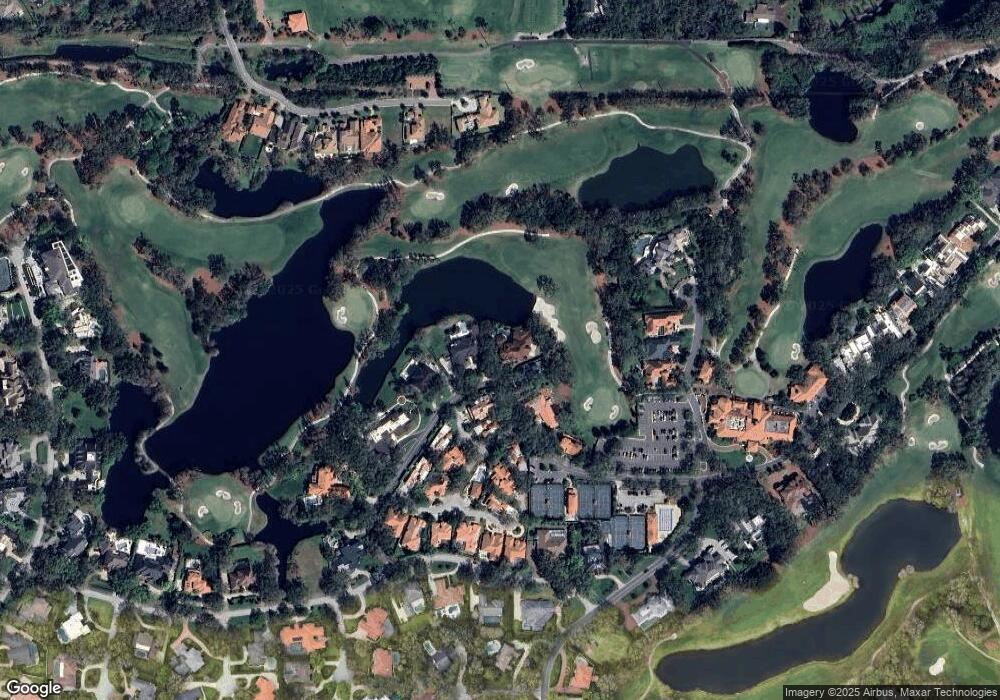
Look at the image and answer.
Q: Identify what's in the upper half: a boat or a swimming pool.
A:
swimming pool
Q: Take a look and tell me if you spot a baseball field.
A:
No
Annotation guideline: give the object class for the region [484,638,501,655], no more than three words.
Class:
swimming pool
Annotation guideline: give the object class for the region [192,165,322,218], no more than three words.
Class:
pond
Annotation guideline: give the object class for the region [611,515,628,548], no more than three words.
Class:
tennis court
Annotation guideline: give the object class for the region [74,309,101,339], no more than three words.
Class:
house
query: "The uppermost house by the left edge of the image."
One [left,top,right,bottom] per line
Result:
[38,245,75,297]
